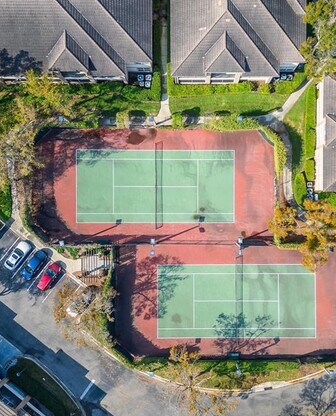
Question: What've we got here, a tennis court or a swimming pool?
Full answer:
Visible in the photo is a tennis court.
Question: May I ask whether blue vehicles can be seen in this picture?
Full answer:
Yes, the photo shows a blue vehicle.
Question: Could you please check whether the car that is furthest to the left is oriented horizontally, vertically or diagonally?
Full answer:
The car that is furthest to the left is laid out diagonally.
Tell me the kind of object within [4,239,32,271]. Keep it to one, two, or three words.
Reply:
car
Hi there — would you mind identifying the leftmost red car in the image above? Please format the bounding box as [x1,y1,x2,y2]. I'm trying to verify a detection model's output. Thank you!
[36,261,63,291]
